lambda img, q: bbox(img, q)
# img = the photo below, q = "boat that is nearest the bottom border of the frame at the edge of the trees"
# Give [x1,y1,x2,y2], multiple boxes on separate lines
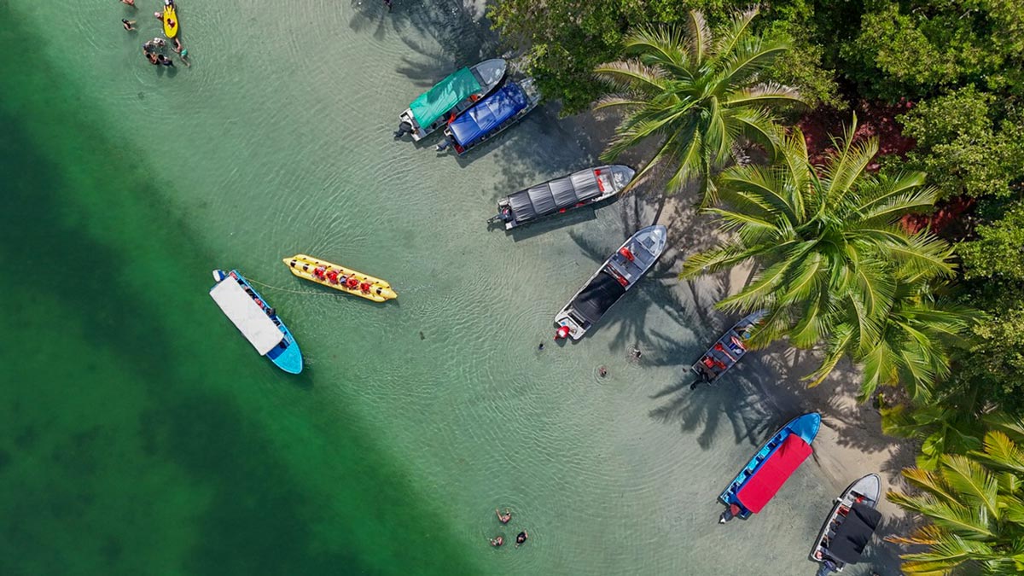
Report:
[810,471,882,576]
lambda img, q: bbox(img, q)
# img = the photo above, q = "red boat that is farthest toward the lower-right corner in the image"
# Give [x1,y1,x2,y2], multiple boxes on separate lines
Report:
[715,413,824,520]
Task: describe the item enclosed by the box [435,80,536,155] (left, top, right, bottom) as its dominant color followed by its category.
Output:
blue boat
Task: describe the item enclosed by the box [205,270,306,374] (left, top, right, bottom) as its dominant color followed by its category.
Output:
white boat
